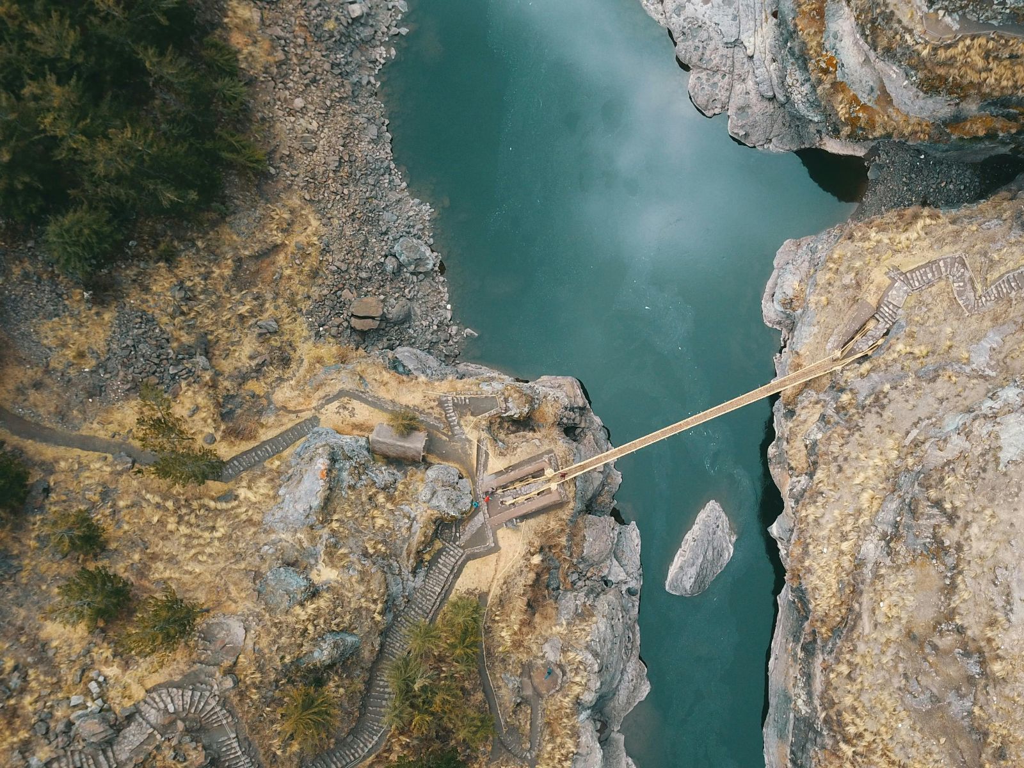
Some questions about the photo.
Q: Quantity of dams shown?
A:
0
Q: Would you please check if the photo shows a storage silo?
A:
No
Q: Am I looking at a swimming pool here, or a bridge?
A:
bridge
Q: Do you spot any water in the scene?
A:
Yes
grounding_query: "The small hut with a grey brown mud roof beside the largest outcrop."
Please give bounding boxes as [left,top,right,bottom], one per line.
[370,423,427,463]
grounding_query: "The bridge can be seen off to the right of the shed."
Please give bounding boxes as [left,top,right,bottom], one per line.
[496,317,876,505]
